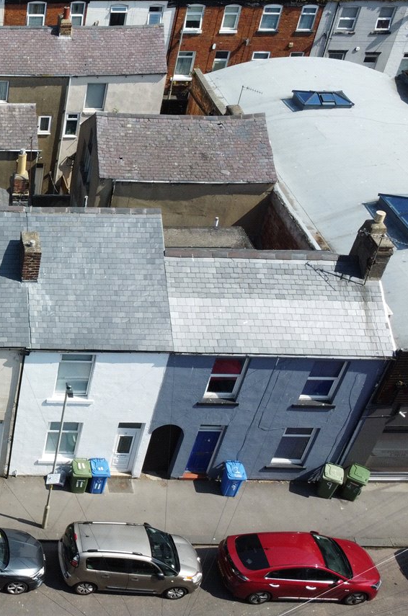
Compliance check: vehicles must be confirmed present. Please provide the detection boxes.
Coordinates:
[221,527,393,606]
[0,524,51,592]
[54,516,202,597]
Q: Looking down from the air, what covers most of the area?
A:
buildings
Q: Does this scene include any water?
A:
No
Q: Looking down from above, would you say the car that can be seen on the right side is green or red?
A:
red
